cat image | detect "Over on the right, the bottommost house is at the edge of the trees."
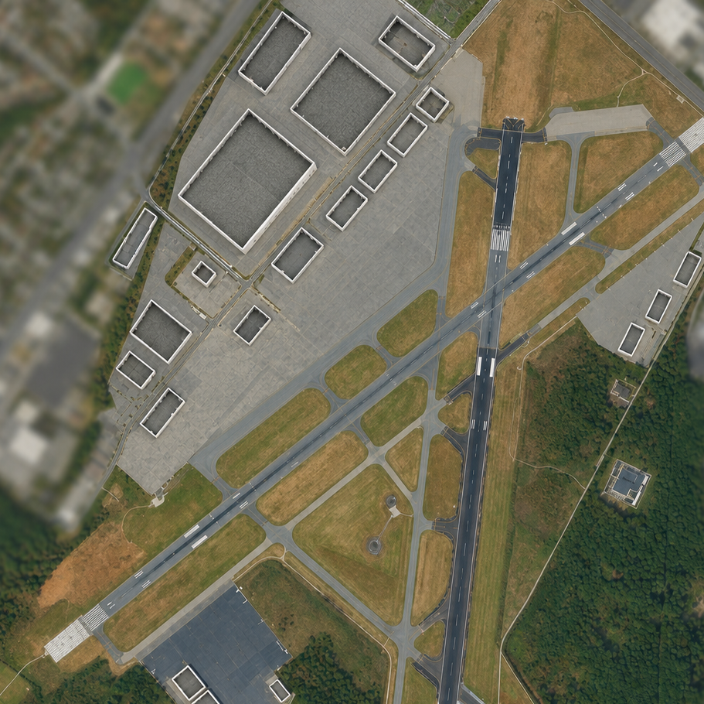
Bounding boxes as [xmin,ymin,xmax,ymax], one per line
[606,462,649,505]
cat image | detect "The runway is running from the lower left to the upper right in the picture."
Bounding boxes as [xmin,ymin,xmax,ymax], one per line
[81,142,683,631]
